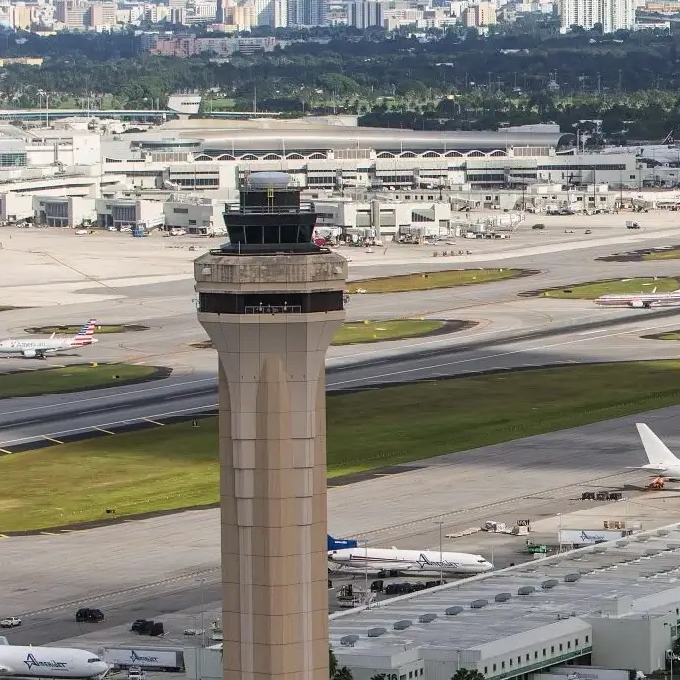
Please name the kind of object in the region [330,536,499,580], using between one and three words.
airplane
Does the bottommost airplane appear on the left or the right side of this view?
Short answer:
left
